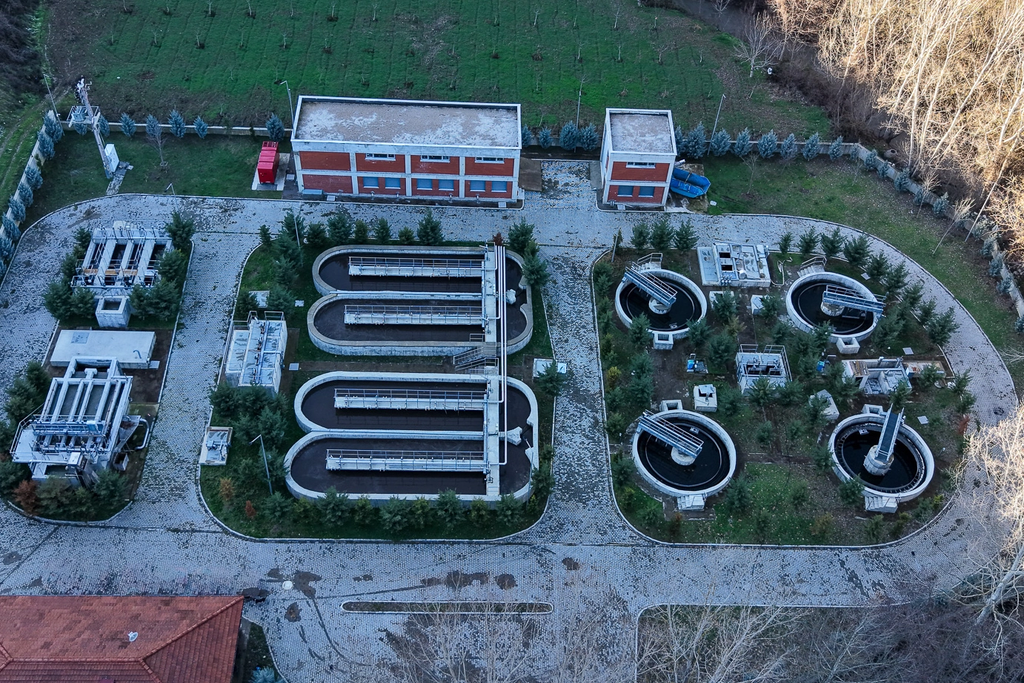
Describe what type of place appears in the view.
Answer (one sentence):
This image shows an industrial area.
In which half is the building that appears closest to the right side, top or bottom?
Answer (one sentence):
You can find the building that appears closest to the right side in the top half.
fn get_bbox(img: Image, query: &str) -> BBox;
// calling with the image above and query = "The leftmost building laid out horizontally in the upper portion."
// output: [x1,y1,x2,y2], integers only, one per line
[290,97,521,200]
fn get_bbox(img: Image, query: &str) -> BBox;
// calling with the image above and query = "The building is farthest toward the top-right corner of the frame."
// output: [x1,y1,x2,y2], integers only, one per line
[602,109,675,205]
